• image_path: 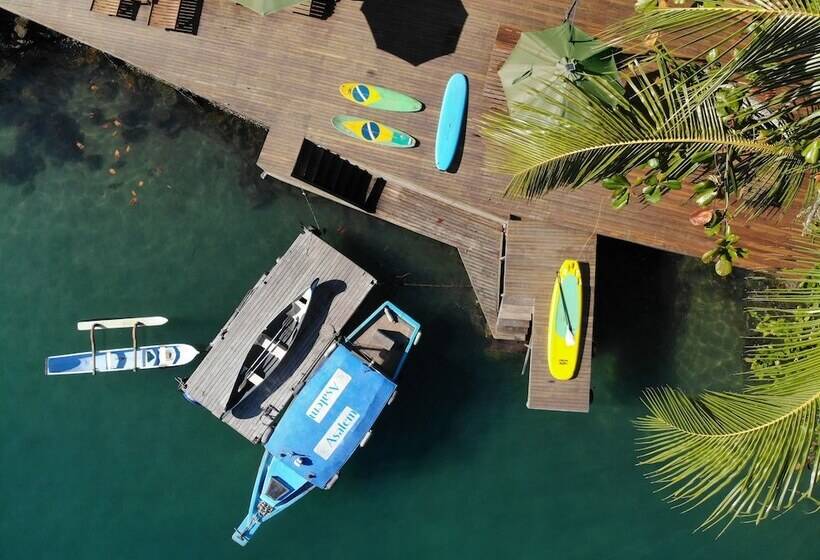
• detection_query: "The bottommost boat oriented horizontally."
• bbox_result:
[45,317,202,376]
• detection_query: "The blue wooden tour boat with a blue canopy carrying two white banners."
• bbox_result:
[232,300,420,548]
